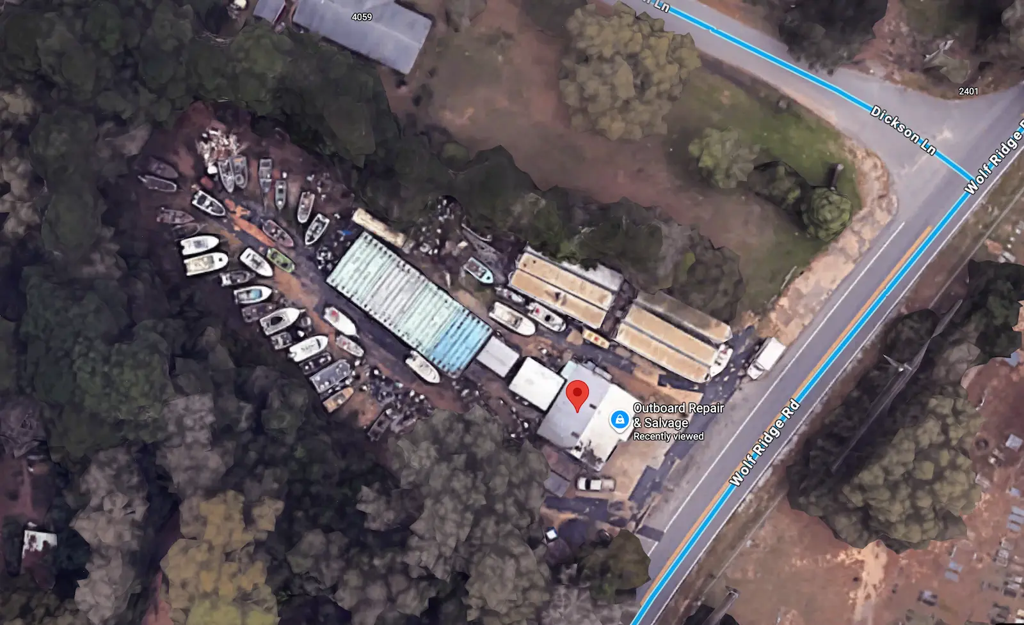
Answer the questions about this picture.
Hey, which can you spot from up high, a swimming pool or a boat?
boat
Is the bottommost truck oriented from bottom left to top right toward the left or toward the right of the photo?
right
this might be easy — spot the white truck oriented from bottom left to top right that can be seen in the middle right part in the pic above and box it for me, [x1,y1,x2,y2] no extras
[748,337,786,380]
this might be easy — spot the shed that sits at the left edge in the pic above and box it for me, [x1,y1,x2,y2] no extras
[23,530,56,560]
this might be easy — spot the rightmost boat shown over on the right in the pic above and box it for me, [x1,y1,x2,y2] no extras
[710,341,734,378]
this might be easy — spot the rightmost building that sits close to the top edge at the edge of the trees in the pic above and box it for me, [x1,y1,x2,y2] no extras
[294,0,433,74]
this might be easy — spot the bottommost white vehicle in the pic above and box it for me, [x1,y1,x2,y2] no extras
[577,477,615,492]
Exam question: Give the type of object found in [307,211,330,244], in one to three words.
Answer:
boat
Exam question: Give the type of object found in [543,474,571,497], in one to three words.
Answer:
shed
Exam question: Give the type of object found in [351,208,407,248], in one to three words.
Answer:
trailer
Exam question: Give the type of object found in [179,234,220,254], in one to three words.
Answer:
boat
